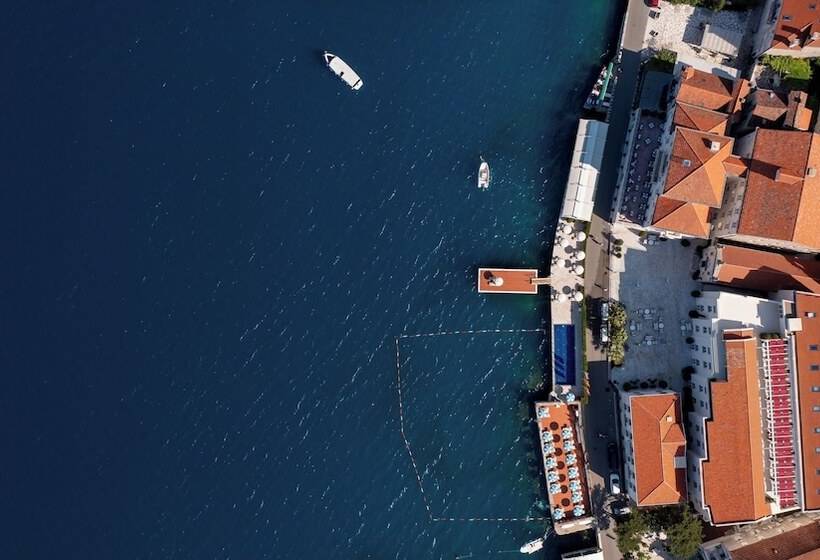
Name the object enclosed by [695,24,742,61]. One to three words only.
shed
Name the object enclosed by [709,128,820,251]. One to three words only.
house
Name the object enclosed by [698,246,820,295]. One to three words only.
house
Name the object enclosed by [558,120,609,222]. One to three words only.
building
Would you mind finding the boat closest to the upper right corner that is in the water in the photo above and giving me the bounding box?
[581,68,610,114]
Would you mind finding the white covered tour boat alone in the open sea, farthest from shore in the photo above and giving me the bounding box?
[325,55,366,95]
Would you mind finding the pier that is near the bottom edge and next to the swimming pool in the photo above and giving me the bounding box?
[534,400,597,535]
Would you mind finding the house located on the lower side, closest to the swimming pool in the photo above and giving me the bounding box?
[620,389,689,506]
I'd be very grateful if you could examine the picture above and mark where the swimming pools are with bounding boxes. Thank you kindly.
[553,323,578,387]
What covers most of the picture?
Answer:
water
